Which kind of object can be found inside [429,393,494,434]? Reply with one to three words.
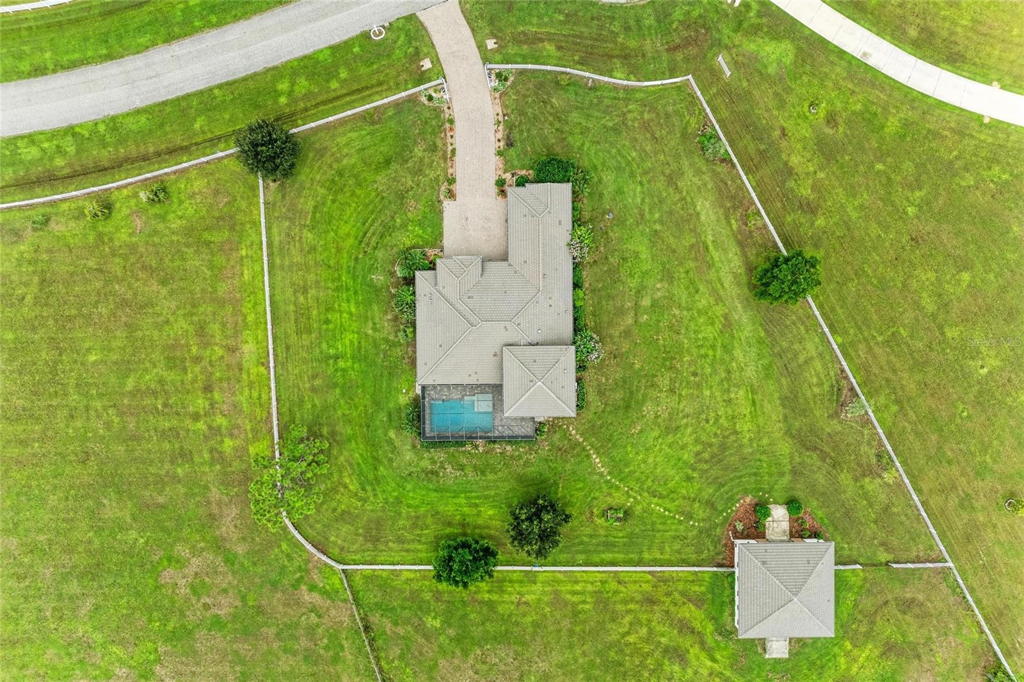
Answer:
swimming pool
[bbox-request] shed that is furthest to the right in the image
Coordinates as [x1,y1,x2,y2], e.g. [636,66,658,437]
[733,538,837,640]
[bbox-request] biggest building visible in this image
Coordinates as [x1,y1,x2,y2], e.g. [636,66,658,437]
[415,180,576,418]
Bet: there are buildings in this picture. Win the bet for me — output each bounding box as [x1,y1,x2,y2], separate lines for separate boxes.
[415,180,576,418]
[733,538,837,640]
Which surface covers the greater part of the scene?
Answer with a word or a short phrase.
grass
